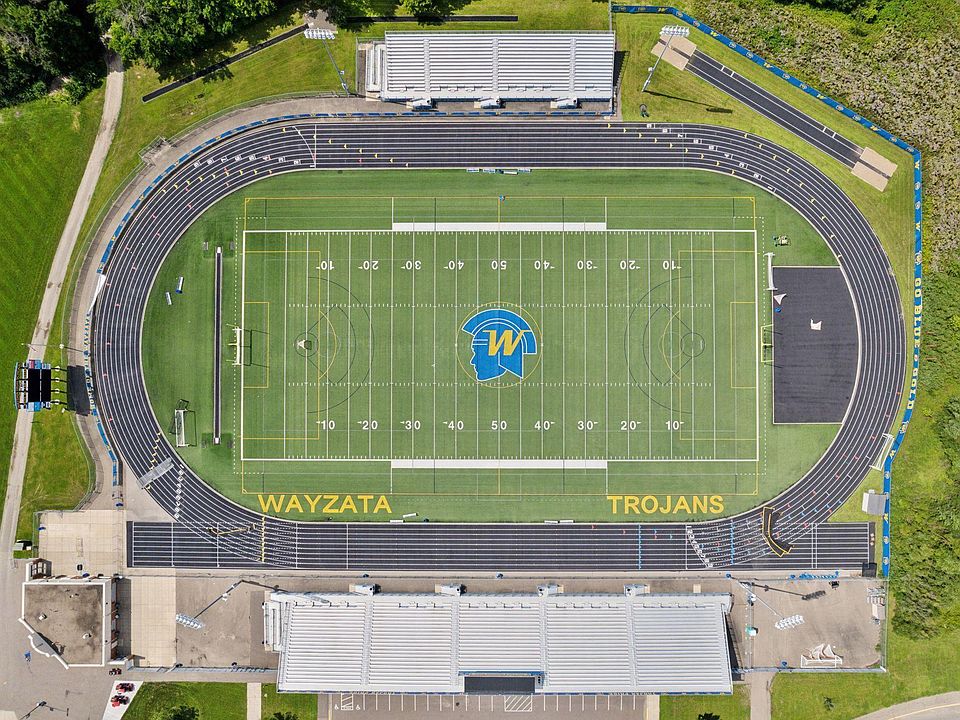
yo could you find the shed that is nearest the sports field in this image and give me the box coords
[860,488,891,514]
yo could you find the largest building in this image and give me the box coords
[19,556,128,671]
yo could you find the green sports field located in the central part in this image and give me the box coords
[142,170,838,520]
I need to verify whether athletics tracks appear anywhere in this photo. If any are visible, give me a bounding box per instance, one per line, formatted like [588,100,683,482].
[93,120,908,572]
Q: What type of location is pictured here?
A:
sports ground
